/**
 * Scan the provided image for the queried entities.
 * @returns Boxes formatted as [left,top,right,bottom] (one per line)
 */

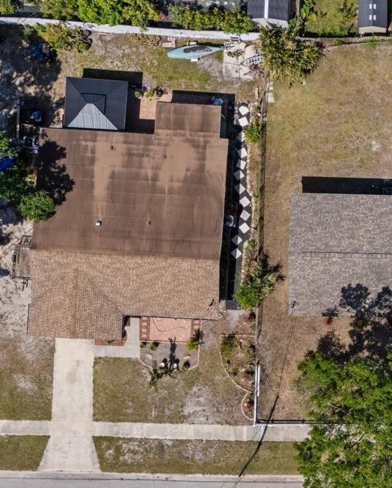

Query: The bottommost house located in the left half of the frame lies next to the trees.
[26,102,231,341]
